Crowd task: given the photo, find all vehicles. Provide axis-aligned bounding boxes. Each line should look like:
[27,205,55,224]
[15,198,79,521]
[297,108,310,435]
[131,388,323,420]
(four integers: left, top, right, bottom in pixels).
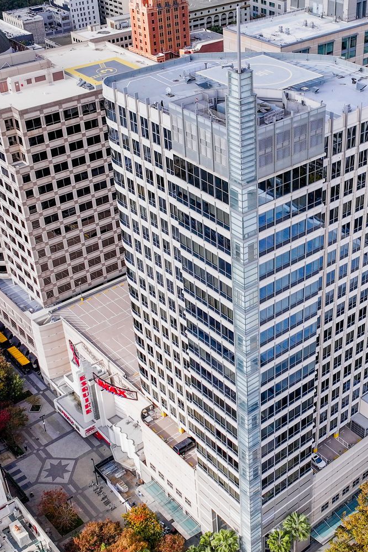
[173,438,194,454]
[312,453,328,467]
